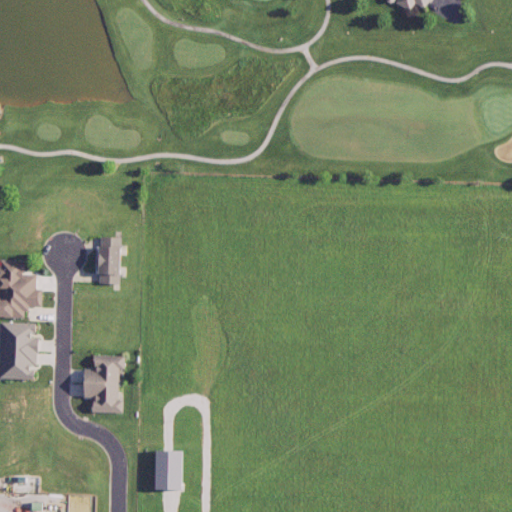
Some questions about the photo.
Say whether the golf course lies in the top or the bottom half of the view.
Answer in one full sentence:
You can find the golf course in the top half.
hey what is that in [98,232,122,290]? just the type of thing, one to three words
house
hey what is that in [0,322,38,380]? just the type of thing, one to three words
house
